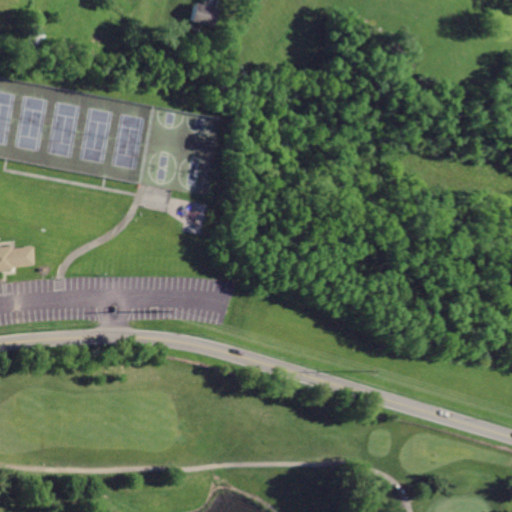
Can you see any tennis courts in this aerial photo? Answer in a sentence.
Yes, the photo shows a tennis court.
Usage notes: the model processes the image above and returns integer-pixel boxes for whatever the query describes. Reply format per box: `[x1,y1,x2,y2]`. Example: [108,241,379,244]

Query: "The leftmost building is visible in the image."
[0,238,35,274]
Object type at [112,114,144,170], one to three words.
tennis court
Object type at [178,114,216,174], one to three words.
basketball court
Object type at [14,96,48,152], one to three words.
tennis court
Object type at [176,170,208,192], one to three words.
basketball court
